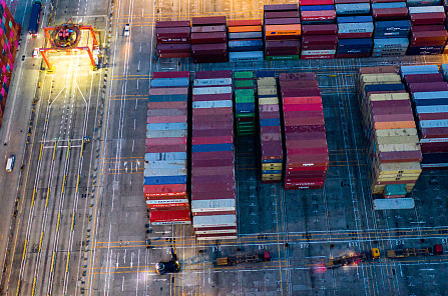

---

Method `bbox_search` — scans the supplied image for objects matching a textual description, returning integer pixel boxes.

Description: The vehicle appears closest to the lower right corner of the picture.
[393,241,448,258]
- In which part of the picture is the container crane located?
top left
